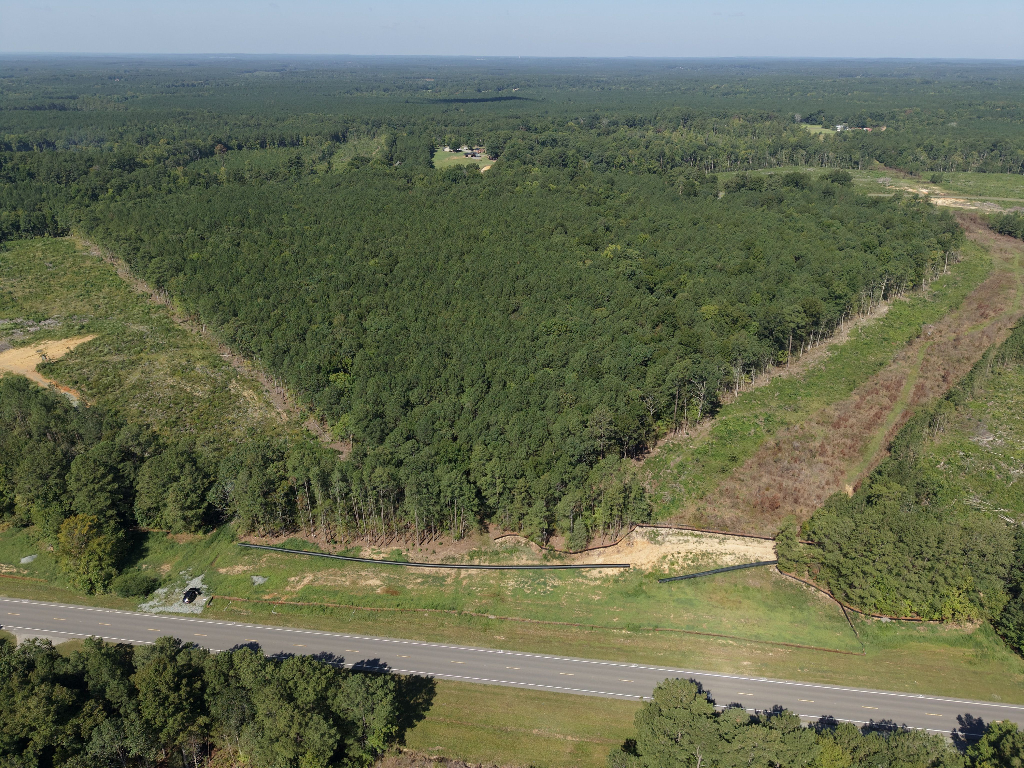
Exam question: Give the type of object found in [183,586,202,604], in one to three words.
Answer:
car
